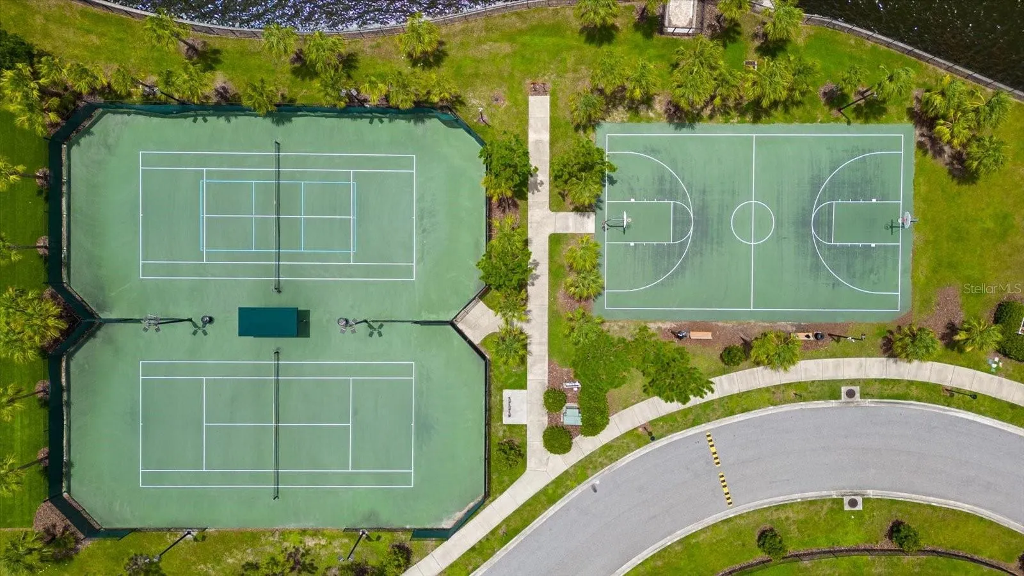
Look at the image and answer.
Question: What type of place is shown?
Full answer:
What you see here is a sports ground.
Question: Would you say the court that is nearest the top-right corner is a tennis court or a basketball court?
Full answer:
From above, the court that is nearest the top-right corner can be identified as a basketball court.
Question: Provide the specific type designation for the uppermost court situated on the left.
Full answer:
The uppermost court situated on the left can be classified as a tennis court.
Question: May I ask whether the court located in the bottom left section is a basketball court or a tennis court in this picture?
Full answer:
What you see as the court located in the bottom left section is a tennis court.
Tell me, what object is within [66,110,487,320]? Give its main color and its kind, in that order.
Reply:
green tennis court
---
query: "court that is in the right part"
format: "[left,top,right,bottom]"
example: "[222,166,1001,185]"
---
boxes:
[593,123,915,322]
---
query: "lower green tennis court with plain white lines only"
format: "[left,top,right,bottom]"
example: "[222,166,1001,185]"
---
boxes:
[66,320,486,528]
